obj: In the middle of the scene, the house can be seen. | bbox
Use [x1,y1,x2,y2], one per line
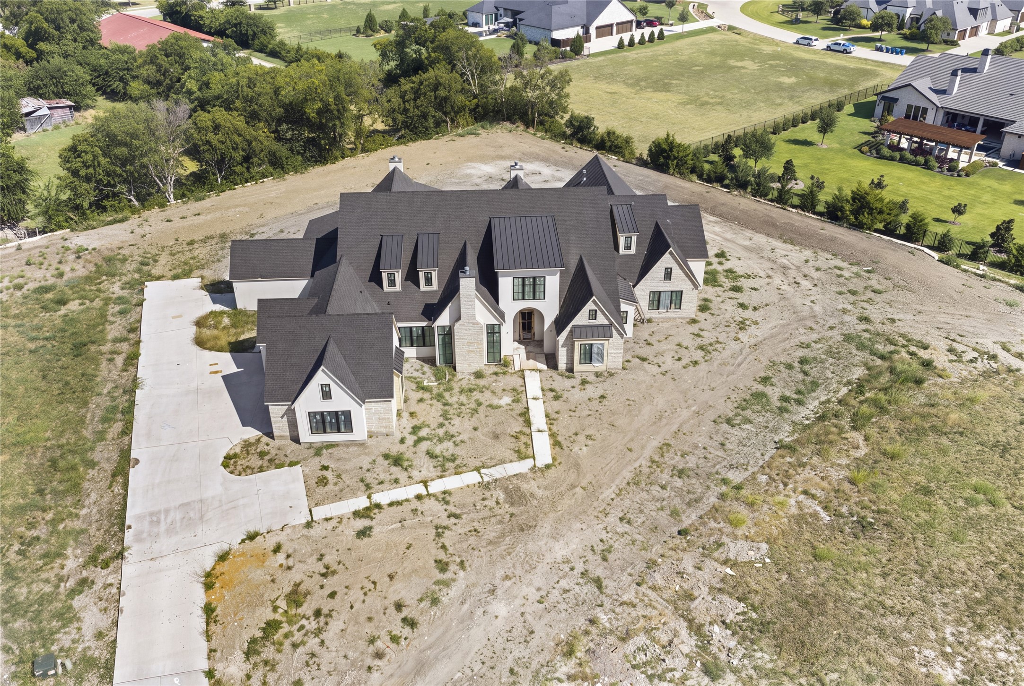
[229,151,711,444]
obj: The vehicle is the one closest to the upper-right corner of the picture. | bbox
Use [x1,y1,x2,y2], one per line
[825,39,860,53]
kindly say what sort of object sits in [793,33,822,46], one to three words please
vehicle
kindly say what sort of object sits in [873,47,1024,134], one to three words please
house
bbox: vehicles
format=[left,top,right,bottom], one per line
[648,15,670,25]
[825,39,860,53]
[793,33,822,46]
[639,16,654,27]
